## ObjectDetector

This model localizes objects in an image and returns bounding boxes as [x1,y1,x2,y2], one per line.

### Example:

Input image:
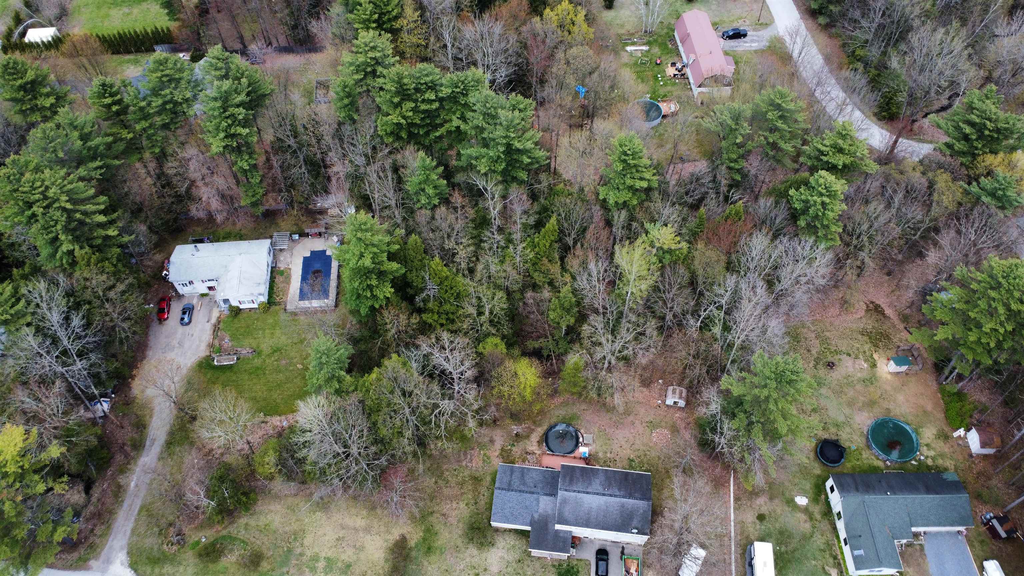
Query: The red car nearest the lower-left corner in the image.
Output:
[156,296,172,321]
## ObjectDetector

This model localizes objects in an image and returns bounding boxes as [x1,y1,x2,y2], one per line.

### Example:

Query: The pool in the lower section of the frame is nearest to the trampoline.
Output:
[867,420,918,460]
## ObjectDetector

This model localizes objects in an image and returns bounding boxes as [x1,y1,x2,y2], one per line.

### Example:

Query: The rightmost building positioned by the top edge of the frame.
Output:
[676,9,737,98]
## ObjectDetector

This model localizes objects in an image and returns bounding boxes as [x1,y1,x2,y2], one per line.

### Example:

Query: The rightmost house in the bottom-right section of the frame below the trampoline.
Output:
[825,470,977,574]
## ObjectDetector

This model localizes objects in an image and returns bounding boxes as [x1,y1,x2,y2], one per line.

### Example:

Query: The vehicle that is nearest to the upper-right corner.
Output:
[721,29,749,41]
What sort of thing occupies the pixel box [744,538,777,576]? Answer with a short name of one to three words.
vehicle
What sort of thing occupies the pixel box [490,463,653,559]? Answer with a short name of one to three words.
house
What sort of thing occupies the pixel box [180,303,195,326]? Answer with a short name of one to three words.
car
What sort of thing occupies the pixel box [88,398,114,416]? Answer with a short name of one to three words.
vehicle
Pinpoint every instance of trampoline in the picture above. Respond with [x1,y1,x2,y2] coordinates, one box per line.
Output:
[816,434,849,466]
